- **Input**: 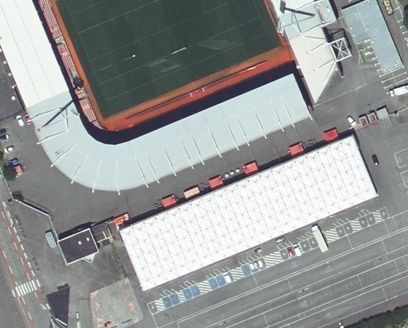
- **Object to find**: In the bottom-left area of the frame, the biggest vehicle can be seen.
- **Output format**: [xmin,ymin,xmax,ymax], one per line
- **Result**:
[44,230,58,249]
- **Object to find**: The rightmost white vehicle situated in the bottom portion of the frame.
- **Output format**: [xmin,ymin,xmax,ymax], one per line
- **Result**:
[312,226,328,252]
